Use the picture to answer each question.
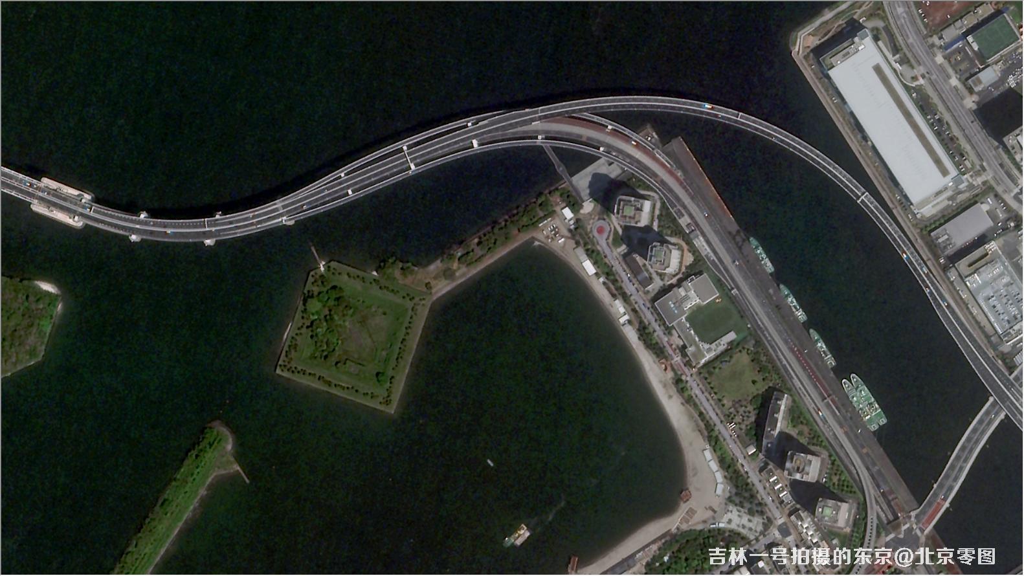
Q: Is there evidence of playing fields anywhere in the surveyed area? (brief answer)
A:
Yes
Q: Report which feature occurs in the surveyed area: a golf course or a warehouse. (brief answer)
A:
warehouse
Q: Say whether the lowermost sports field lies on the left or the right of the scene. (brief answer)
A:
right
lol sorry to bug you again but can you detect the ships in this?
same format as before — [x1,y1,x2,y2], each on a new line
[850,372,886,426]
[842,378,879,433]
[513,529,531,546]
[504,524,527,546]
[749,236,775,273]
[809,328,836,368]
[780,283,807,323]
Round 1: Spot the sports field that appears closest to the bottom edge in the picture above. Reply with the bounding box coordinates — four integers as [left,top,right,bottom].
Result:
[686,277,752,345]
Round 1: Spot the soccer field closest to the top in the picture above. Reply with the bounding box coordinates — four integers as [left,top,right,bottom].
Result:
[973,14,1023,59]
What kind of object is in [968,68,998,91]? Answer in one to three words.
building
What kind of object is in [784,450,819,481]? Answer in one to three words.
building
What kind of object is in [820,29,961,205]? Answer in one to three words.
warehouse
